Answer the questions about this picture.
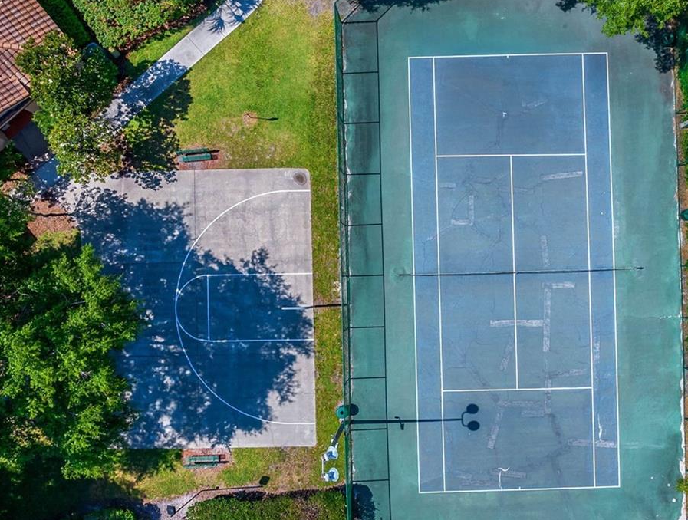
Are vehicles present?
No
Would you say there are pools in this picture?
No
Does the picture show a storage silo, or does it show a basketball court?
basketball court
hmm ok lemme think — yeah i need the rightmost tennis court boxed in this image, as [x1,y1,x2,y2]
[342,0,687,520]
